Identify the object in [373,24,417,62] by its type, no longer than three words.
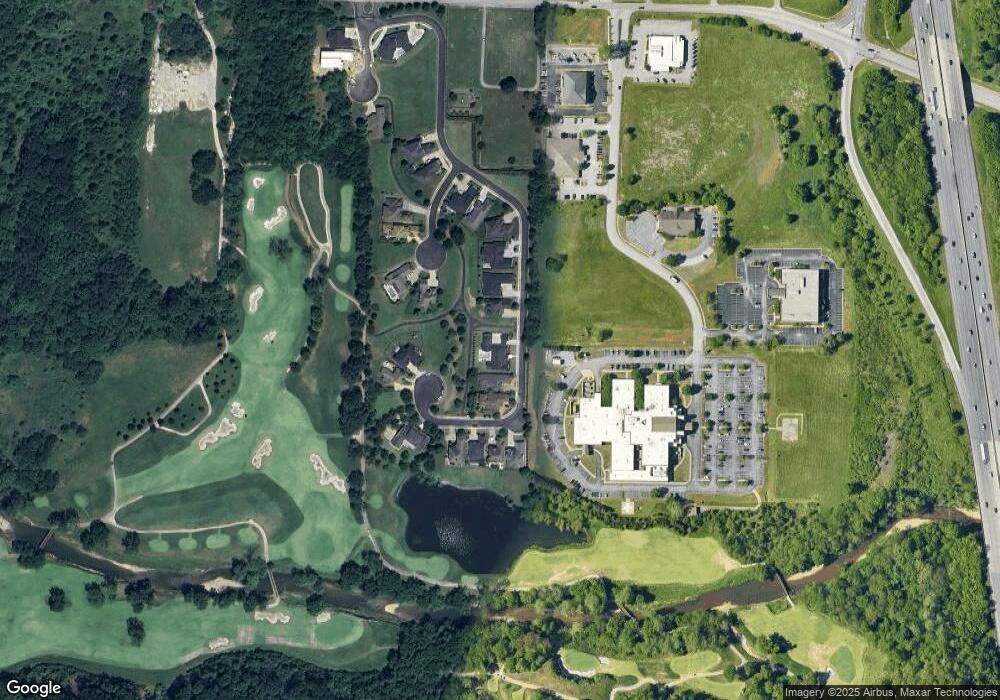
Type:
house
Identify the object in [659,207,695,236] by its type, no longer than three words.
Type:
building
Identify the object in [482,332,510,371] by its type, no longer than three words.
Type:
house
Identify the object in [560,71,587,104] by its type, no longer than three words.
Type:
building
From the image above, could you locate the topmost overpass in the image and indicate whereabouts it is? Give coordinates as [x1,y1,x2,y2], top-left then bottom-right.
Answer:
[916,35,969,118]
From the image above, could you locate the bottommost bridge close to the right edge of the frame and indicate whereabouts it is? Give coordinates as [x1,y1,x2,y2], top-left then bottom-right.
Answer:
[978,496,1000,542]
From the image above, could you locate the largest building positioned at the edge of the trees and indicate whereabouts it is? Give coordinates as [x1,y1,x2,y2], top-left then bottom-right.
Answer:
[570,379,693,481]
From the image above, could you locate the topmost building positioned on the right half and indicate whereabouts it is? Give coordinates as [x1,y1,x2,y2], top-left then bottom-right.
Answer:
[650,35,684,70]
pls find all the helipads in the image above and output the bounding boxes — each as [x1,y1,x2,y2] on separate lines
[768,413,804,440]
